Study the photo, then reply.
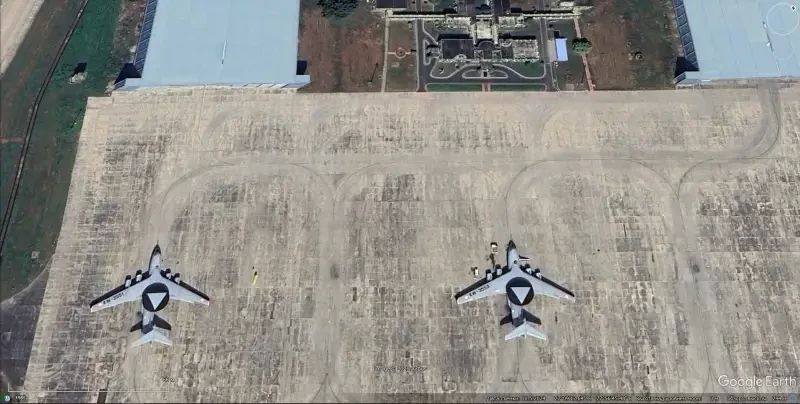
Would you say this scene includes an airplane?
Yes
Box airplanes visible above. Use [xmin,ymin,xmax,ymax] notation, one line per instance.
[458,234,575,343]
[96,241,214,349]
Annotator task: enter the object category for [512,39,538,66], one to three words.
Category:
building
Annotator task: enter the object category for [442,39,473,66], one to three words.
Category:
building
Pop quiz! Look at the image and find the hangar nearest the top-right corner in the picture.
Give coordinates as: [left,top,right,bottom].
[670,0,800,88]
